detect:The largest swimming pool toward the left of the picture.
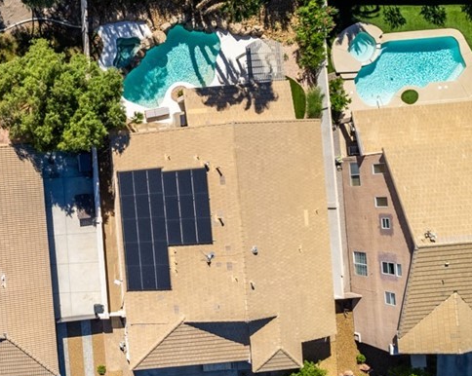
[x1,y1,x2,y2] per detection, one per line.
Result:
[123,25,220,107]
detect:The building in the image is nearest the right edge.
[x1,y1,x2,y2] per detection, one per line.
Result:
[337,97,472,360]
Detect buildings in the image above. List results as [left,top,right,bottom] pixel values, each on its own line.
[0,144,61,376]
[337,97,472,360]
[112,79,337,375]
